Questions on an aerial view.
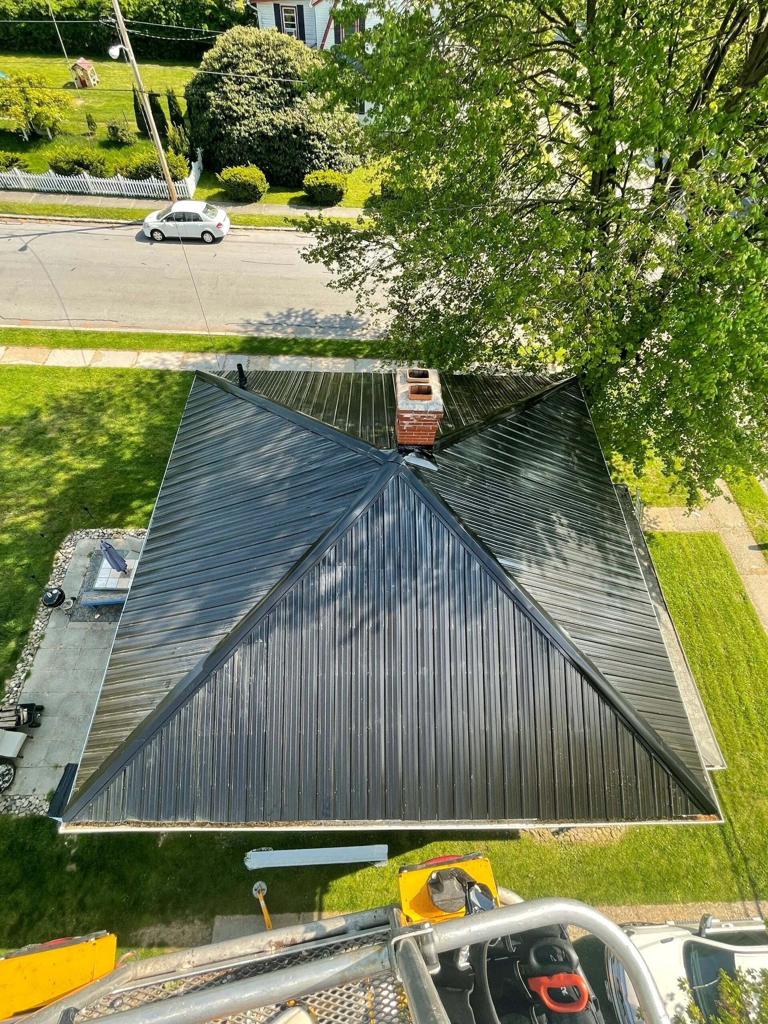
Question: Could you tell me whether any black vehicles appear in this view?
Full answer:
No, no black vehicle can be seen from above.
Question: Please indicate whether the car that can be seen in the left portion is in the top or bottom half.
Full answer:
You can find the car that can be seen in the left portion in the top half.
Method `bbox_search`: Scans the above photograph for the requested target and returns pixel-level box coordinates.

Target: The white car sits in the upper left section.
[139,197,229,242]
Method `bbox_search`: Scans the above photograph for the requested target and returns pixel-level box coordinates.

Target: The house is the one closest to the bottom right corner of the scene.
[48,362,728,835]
